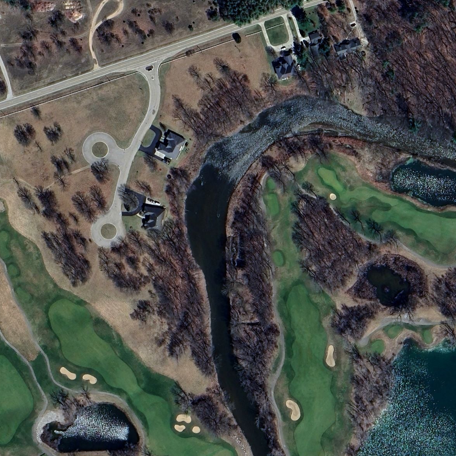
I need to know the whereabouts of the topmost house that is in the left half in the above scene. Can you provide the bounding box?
[157,130,187,161]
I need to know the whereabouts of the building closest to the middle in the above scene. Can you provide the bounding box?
[143,205,165,231]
